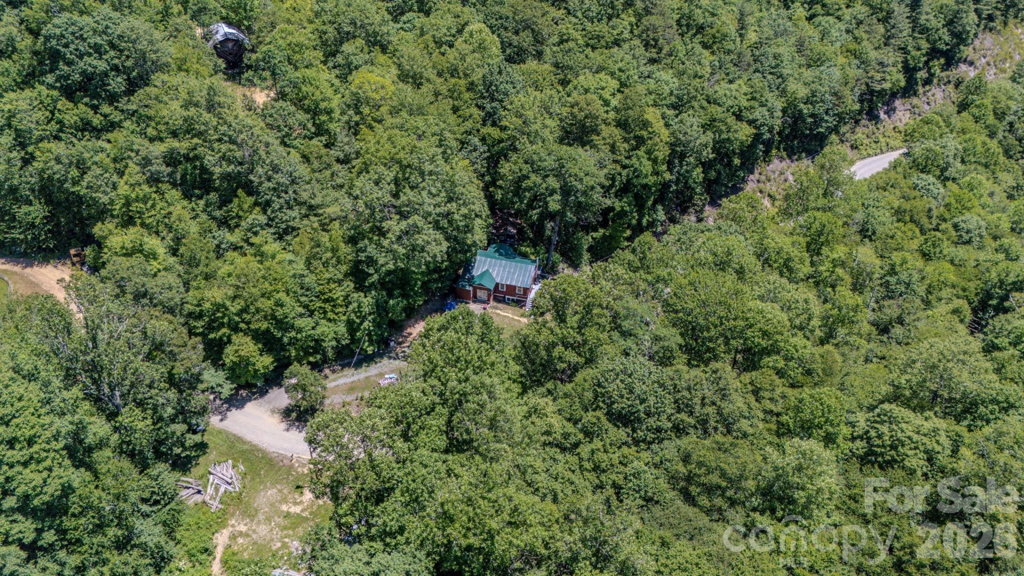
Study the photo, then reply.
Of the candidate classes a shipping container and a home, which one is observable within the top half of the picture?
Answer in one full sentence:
Visible within the top half of the picture is a home.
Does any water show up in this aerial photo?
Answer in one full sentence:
No, the scene doesn't show any water.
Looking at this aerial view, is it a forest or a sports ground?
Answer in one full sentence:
The picture captures a forest.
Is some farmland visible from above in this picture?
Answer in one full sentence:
No, farmland can't be seen anywhere here.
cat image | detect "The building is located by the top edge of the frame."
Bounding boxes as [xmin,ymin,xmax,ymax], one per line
[201,20,250,72]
